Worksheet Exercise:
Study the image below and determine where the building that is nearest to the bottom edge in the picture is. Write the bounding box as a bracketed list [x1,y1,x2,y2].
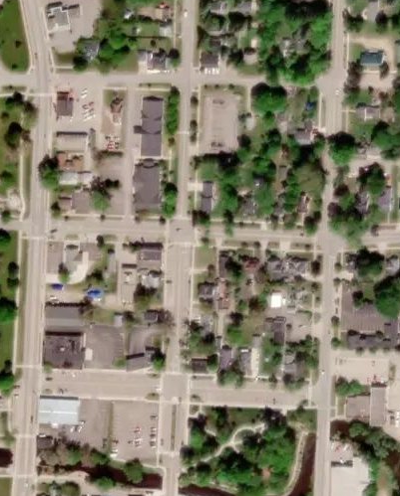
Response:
[331,457,370,496]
